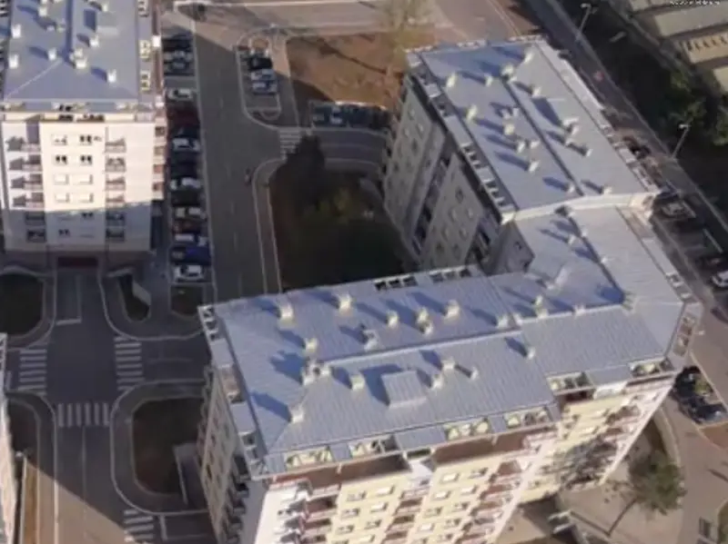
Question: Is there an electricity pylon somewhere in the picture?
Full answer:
No, this view has no electricity pylon in it.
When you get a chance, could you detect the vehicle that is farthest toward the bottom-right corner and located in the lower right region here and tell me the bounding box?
[690,401,728,426]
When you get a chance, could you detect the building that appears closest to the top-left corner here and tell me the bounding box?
[0,0,160,266]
